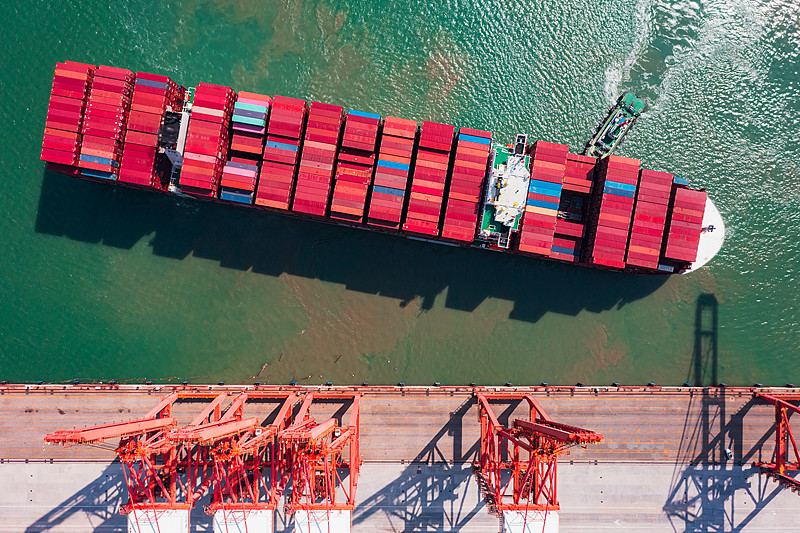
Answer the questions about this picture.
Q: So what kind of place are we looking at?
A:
port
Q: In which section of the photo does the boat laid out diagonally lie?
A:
top right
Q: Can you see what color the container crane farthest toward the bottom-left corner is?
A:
red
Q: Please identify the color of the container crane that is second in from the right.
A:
red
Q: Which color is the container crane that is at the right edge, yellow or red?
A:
red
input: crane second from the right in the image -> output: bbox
[466,392,609,533]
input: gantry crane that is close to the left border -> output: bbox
[40,392,236,533]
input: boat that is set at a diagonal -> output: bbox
[580,92,645,159]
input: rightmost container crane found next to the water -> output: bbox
[742,393,800,503]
